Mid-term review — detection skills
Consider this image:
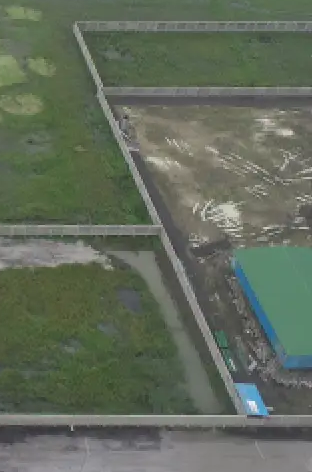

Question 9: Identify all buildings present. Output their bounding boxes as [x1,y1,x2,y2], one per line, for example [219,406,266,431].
[235,384,268,415]
[231,246,312,369]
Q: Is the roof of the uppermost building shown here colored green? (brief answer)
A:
Yes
